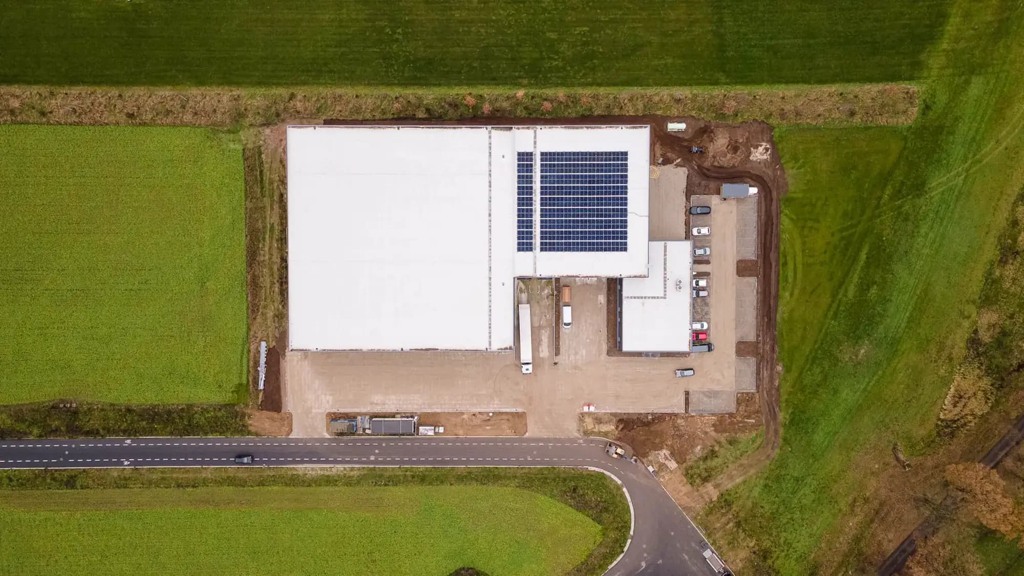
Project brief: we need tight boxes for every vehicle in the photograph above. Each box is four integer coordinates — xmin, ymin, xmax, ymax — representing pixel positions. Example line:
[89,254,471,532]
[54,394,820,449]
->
[717,184,756,197]
[604,441,636,461]
[690,145,705,153]
[692,227,710,235]
[235,456,253,464]
[704,549,731,576]
[692,333,707,340]
[519,304,533,373]
[691,343,713,353]
[692,247,710,255]
[692,321,707,330]
[562,306,572,327]
[675,369,694,377]
[692,290,708,297]
[690,206,711,214]
[692,279,708,286]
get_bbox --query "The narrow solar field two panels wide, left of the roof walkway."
[517,151,533,252]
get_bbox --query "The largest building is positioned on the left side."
[287,126,514,351]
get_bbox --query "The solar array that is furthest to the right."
[540,150,628,253]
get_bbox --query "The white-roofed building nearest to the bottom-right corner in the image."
[616,241,693,355]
